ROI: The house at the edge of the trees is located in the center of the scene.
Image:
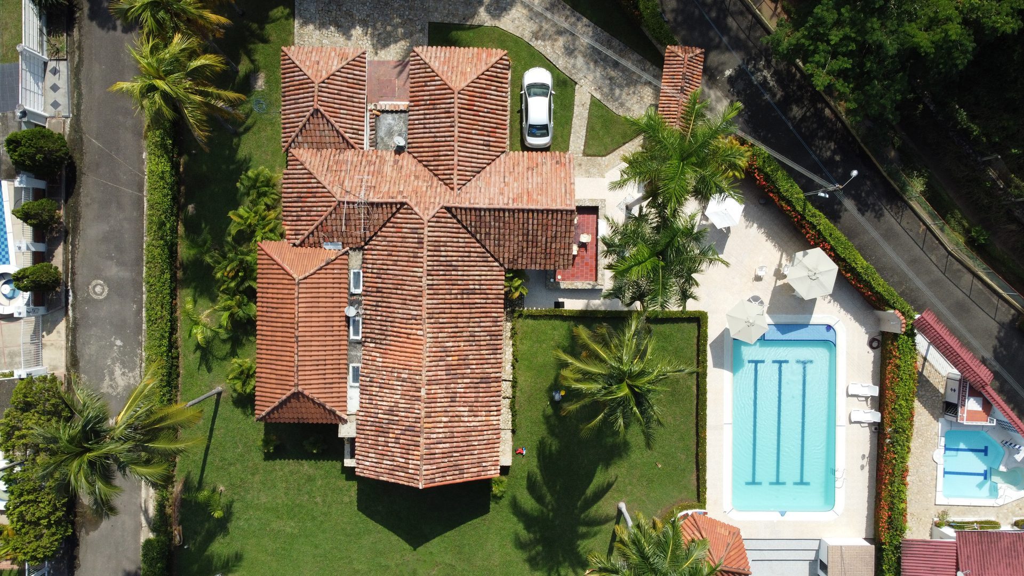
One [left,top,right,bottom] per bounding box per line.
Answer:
[251,43,577,491]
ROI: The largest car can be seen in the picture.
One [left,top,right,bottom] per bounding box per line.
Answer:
[520,70,557,149]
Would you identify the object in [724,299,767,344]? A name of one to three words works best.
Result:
umbrella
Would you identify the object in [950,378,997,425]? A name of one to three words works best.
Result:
shed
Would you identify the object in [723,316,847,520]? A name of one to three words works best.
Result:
swimming pool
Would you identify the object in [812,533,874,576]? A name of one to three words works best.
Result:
building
